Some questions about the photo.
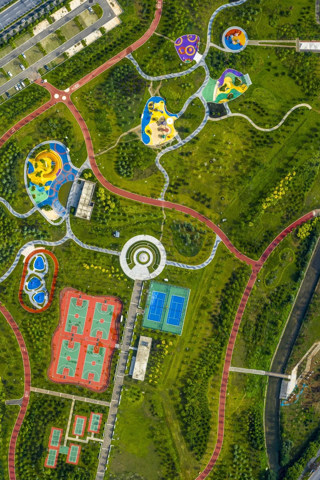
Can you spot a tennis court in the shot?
Yes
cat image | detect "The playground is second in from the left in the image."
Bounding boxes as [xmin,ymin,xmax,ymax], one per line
[141,95,178,145]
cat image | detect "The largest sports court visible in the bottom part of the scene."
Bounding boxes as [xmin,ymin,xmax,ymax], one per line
[48,287,123,392]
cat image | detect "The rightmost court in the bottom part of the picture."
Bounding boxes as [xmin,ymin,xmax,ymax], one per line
[163,285,191,335]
